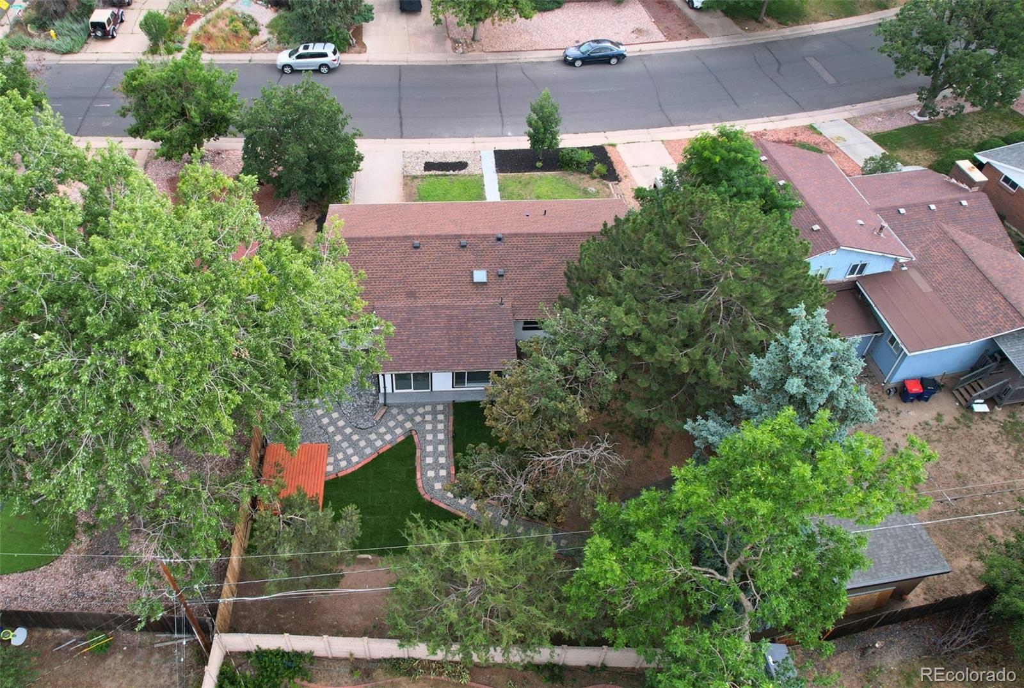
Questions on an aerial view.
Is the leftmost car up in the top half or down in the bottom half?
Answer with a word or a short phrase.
top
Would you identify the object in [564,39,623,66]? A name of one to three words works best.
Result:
car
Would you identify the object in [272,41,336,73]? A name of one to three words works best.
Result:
car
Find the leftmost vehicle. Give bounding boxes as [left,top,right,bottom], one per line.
[89,4,130,34]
